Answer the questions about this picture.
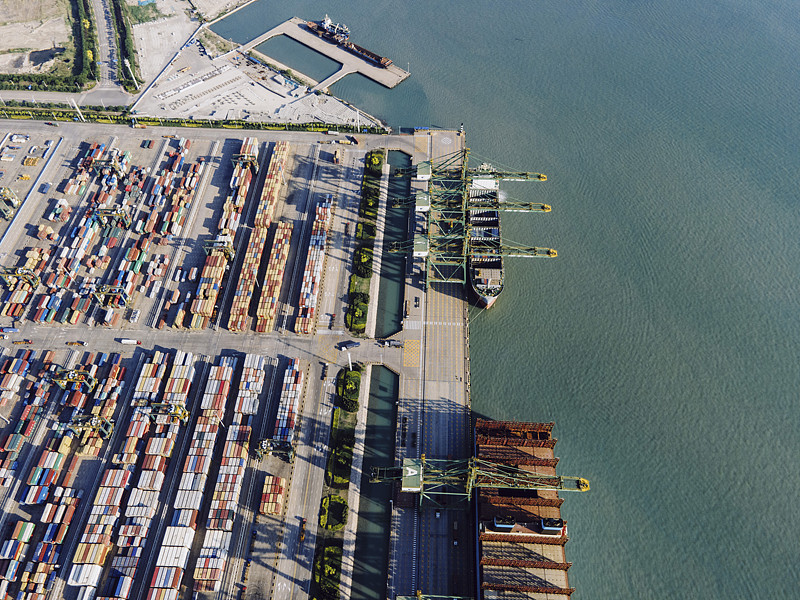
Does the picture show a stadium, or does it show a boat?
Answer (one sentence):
Visible in the photo is a boat.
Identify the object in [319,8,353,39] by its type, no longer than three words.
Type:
boat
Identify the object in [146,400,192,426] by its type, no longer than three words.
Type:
container crane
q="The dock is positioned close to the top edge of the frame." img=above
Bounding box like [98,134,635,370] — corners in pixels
[238,16,412,93]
